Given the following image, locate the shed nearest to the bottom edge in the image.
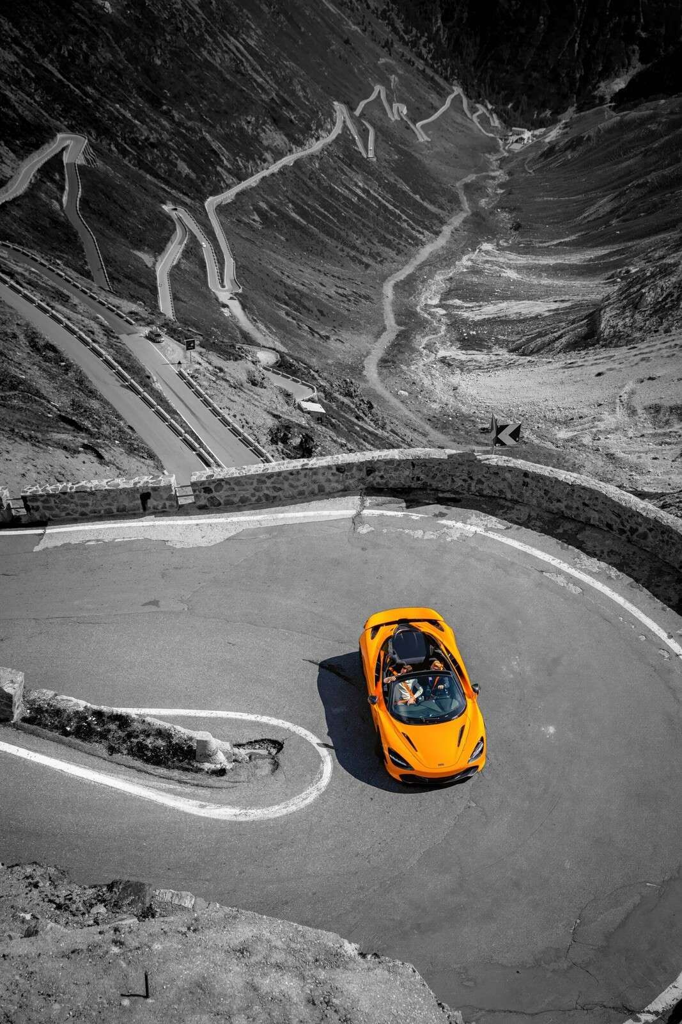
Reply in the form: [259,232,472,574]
[300,396,329,420]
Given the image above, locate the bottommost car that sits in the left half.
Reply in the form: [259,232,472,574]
[144,329,164,344]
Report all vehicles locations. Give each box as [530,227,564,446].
[361,607,485,785]
[144,329,164,344]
